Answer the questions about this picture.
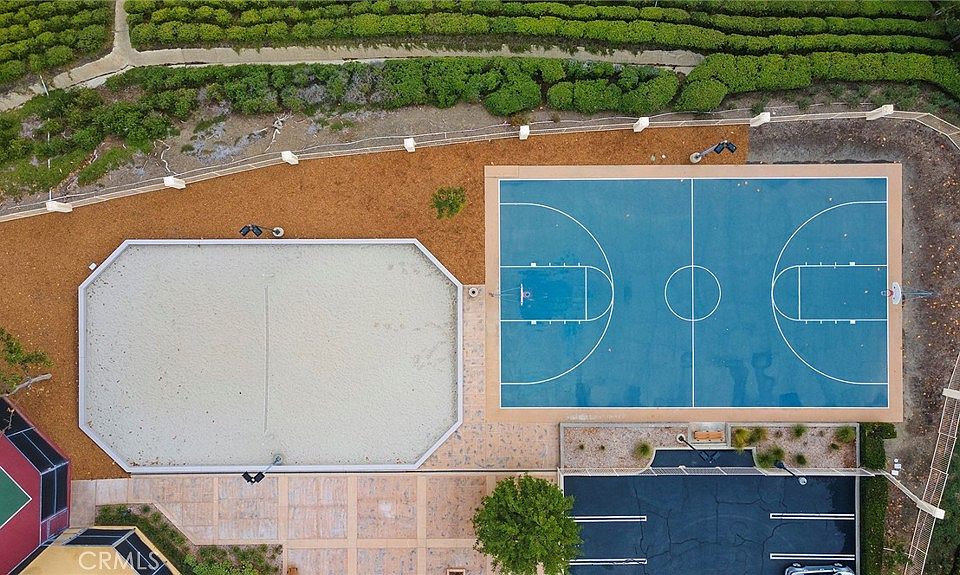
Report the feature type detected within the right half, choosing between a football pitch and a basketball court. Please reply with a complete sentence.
What appears within the right half is a basketball court.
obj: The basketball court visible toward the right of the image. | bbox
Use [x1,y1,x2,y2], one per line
[485,163,904,423]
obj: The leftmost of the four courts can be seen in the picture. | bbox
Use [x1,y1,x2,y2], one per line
[0,397,71,575]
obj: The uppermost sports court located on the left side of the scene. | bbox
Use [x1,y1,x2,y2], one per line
[79,239,463,473]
